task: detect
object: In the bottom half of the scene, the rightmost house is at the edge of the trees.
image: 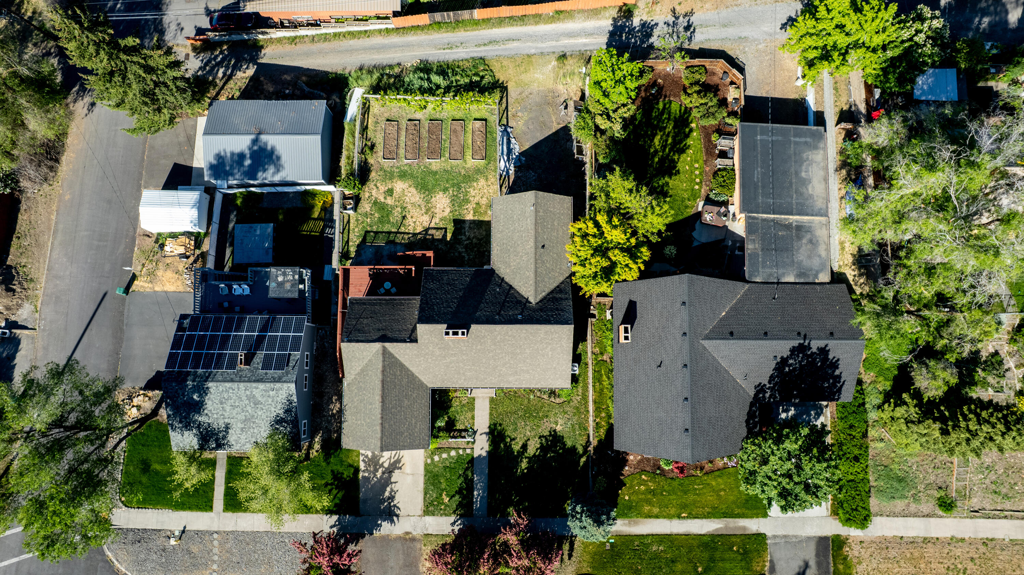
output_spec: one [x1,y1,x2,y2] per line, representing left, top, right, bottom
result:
[614,274,865,464]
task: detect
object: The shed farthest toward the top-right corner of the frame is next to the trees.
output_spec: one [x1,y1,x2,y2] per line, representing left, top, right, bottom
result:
[901,68,958,108]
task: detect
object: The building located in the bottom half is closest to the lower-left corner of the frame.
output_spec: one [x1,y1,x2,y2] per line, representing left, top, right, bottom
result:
[162,312,316,452]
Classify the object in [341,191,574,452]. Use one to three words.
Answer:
house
